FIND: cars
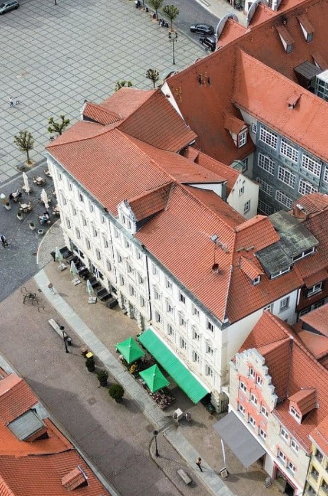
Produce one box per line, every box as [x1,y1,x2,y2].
[0,0,20,12]
[199,36,217,52]
[189,23,216,35]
